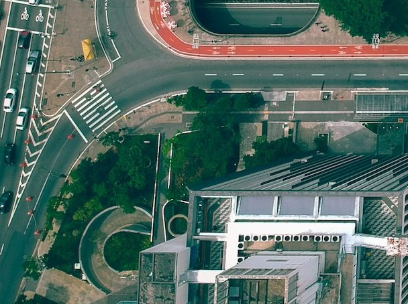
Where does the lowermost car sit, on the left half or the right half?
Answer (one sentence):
The lowermost car sits on the left side.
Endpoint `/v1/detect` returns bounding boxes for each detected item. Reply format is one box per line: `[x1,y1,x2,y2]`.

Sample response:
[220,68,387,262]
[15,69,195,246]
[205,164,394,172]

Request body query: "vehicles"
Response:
[1,82,24,117]
[26,0,44,11]
[13,104,35,134]
[0,185,20,219]
[15,24,37,53]
[1,138,21,168]
[24,47,46,78]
